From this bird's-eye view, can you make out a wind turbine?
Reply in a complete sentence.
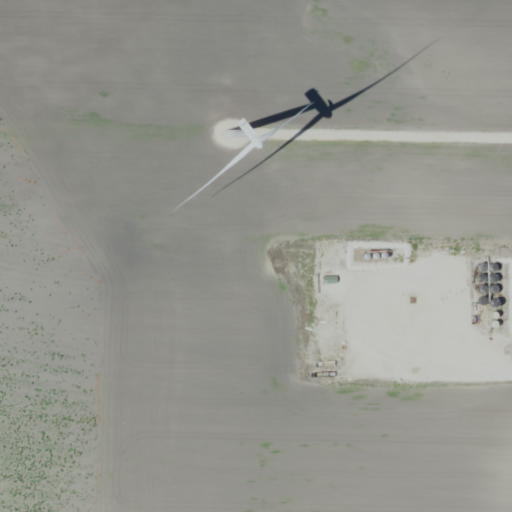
Yes, there's a wind turbine down there.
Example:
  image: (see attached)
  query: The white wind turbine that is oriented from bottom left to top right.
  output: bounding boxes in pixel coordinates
[172,100,317,213]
